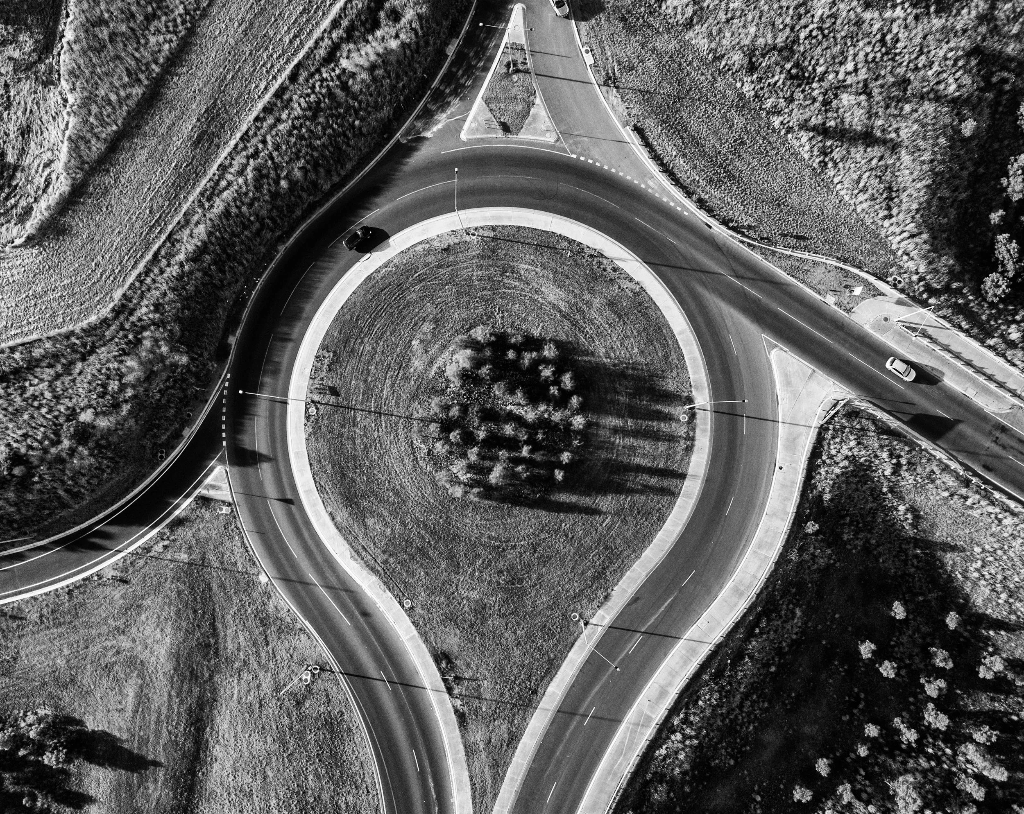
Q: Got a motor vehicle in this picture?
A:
Yes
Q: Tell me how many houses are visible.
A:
zero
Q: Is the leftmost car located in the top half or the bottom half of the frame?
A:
top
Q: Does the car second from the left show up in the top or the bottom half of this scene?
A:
top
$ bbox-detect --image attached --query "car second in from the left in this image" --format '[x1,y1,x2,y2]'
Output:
[545,0,567,20]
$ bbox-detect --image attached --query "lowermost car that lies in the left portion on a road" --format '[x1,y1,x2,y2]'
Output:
[342,223,374,252]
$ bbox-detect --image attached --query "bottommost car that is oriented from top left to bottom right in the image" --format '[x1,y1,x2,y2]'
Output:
[881,355,916,383]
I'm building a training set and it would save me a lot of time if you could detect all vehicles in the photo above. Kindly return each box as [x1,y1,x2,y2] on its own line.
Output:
[881,355,916,383]
[342,223,374,252]
[545,0,567,20]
